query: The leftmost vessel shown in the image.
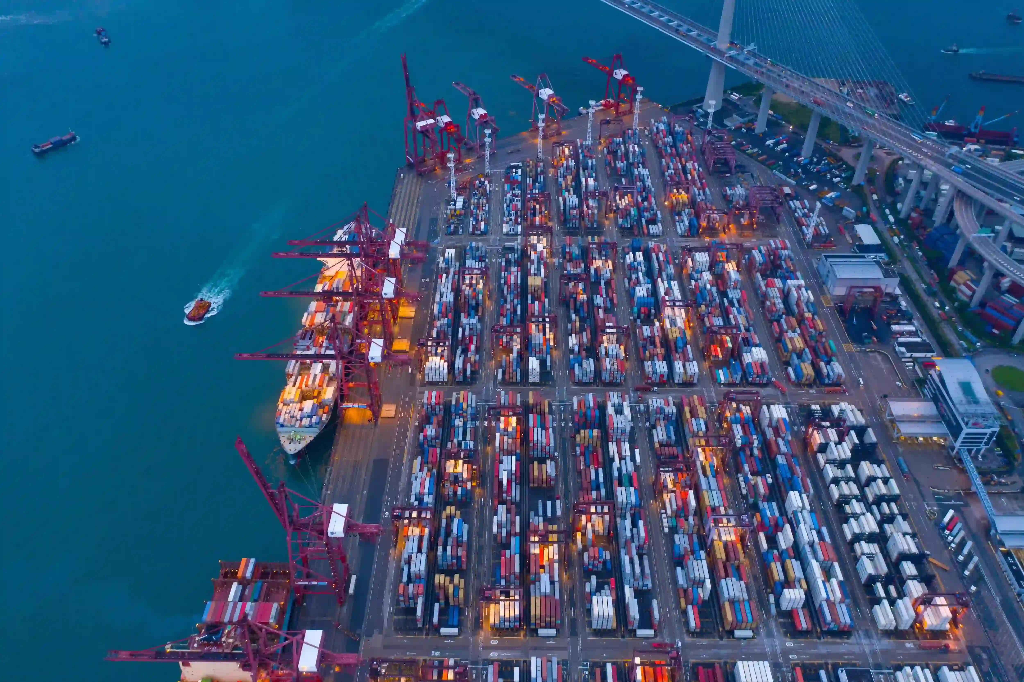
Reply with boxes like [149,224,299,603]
[26,131,80,155]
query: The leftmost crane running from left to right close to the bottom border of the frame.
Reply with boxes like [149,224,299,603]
[112,615,368,682]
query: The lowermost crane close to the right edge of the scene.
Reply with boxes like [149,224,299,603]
[916,594,978,631]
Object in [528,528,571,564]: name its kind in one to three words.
container crane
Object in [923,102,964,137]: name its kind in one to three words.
ship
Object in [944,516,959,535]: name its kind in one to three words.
vehicle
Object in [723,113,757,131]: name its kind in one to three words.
building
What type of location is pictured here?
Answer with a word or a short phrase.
port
